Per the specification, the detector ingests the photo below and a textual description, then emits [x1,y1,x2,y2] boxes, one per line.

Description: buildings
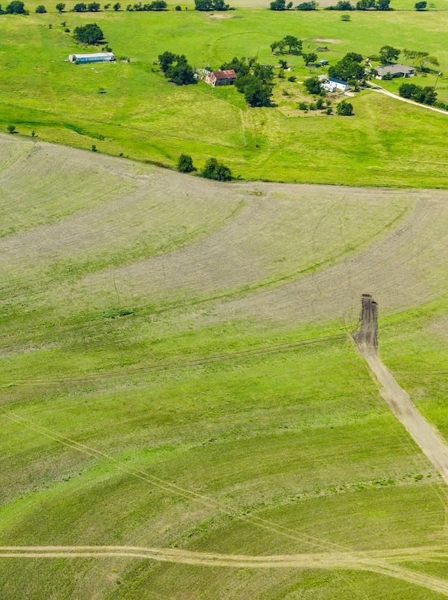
[206,68,237,85]
[324,78,351,91]
[363,63,419,79]
[73,52,115,63]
